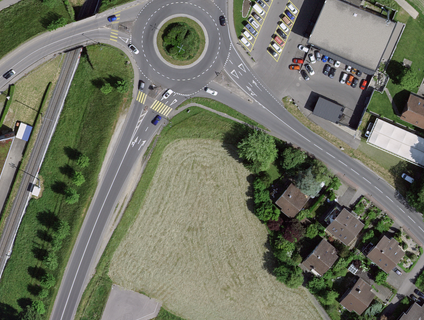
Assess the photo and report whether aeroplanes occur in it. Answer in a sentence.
No, there isn't any aeroplane down there.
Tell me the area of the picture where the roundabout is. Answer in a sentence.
You can find the roundabout in the top area of the picture.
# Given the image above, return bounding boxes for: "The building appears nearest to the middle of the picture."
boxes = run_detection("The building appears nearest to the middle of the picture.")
[276,184,309,217]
